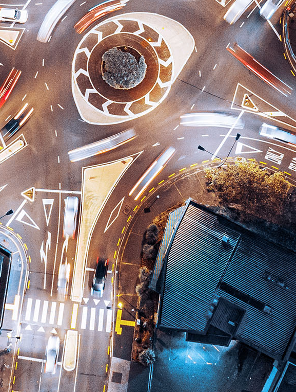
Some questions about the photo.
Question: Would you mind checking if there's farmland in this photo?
No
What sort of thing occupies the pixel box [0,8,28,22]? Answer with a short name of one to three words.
car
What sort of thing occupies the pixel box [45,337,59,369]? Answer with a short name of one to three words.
car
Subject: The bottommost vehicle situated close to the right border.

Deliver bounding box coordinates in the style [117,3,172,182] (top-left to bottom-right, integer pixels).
[263,125,296,144]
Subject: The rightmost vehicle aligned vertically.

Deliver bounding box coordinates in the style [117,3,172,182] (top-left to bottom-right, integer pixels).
[92,260,106,291]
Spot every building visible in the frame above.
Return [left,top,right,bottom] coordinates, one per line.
[0,238,17,330]
[153,197,296,358]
